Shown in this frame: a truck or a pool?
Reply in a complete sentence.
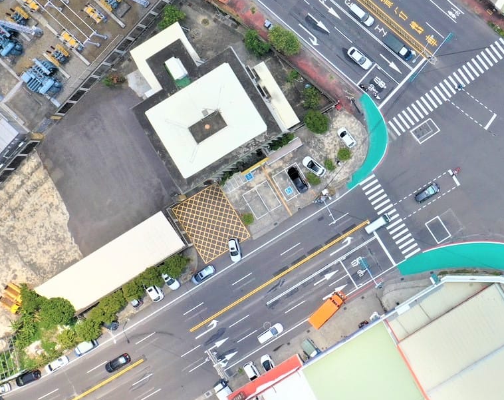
There is a truck in the scene.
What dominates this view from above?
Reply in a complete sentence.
Most of the picture is covered by paved ground.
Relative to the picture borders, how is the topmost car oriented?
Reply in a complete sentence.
From this overhead view, the topmost car appears to run at an angle.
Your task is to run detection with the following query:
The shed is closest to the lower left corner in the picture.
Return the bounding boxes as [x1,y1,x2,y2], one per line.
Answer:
[34,210,197,312]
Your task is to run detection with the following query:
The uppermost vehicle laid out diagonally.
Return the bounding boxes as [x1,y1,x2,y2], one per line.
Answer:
[346,1,374,27]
